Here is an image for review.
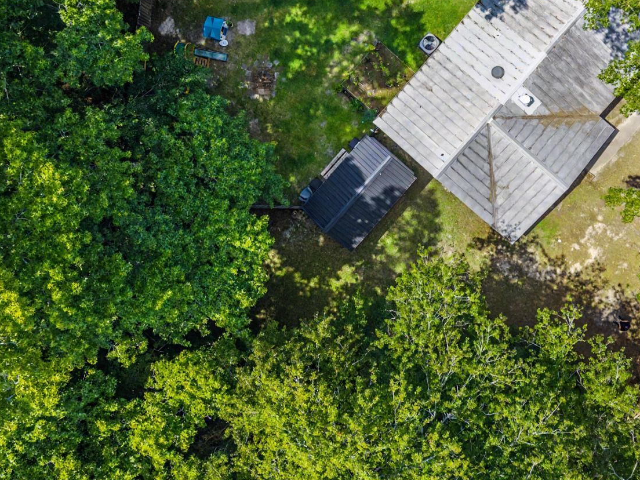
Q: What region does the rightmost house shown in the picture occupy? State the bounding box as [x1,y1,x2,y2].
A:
[374,0,640,247]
